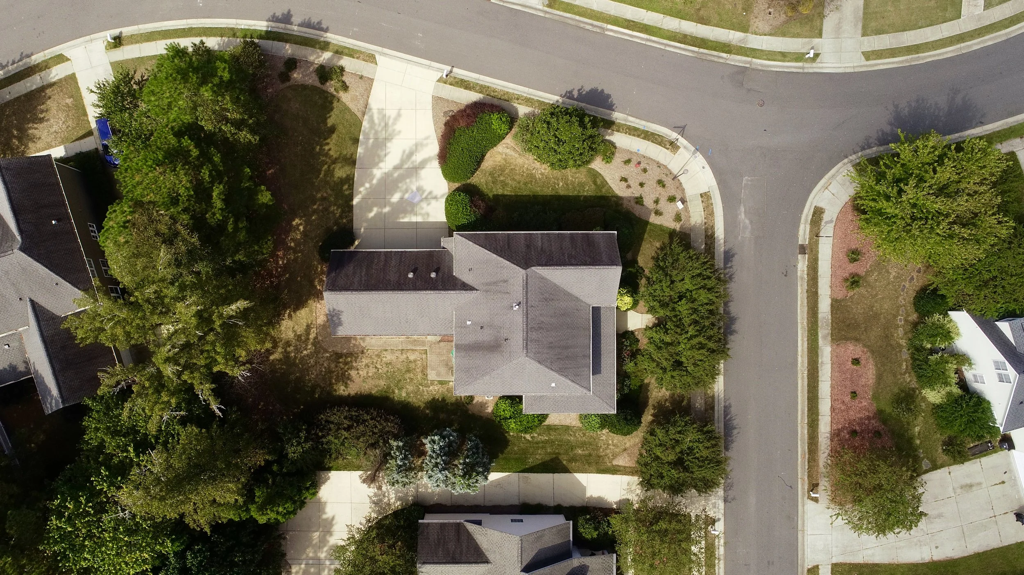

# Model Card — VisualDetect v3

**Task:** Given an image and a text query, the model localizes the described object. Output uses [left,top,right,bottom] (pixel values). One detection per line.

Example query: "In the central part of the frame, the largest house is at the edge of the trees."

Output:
[322,230,622,415]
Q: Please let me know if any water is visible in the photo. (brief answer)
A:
No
